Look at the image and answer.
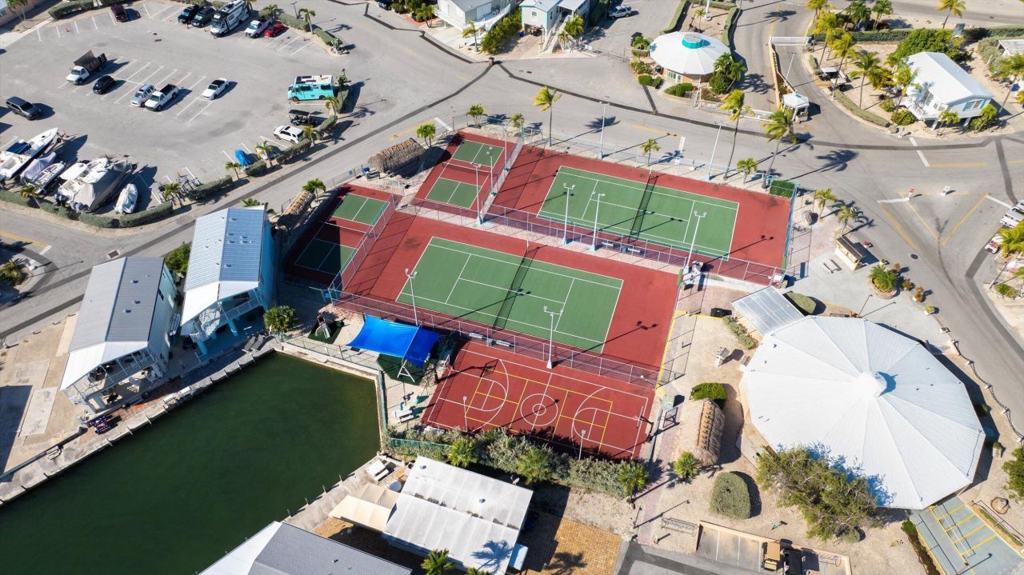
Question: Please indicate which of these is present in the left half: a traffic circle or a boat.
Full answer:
There is a boat in the left half.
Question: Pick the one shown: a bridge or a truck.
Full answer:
It is a truck that can be seen here.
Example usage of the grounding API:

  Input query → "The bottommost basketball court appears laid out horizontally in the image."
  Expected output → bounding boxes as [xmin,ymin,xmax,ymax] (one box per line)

[421,336,659,483]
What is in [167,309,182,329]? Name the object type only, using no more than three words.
boat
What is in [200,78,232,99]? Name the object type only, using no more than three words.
car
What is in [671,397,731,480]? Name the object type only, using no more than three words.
shed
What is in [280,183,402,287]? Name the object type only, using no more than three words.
sports court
